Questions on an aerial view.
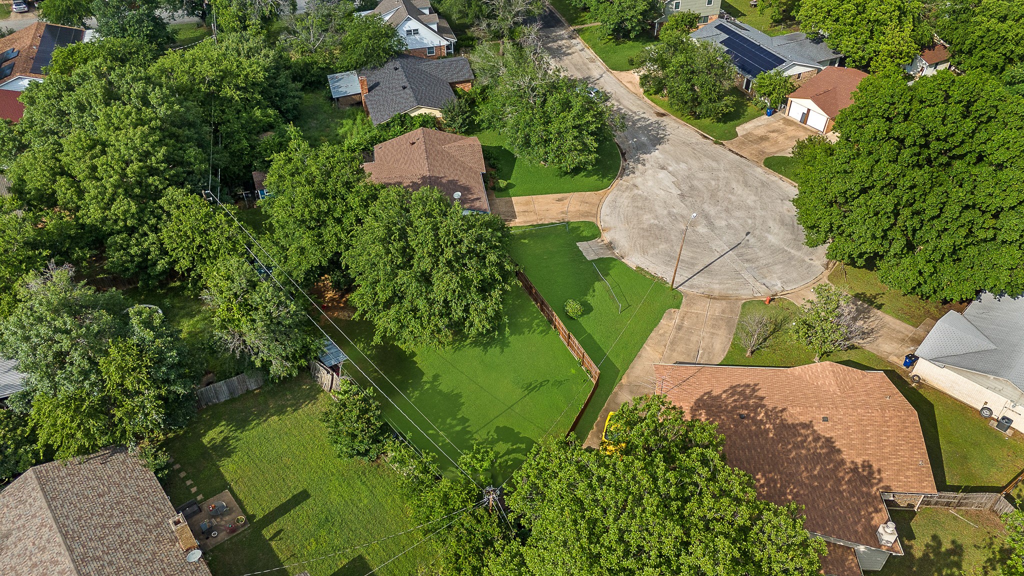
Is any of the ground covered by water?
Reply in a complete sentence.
No, the picture contains no water.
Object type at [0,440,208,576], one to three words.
house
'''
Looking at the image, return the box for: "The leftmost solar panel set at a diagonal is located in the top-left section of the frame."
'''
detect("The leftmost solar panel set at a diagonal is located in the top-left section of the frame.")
[28,28,78,74]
